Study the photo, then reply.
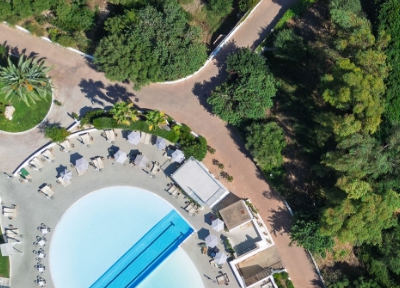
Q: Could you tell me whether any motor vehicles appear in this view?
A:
No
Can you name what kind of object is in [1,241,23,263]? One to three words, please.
umbrella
